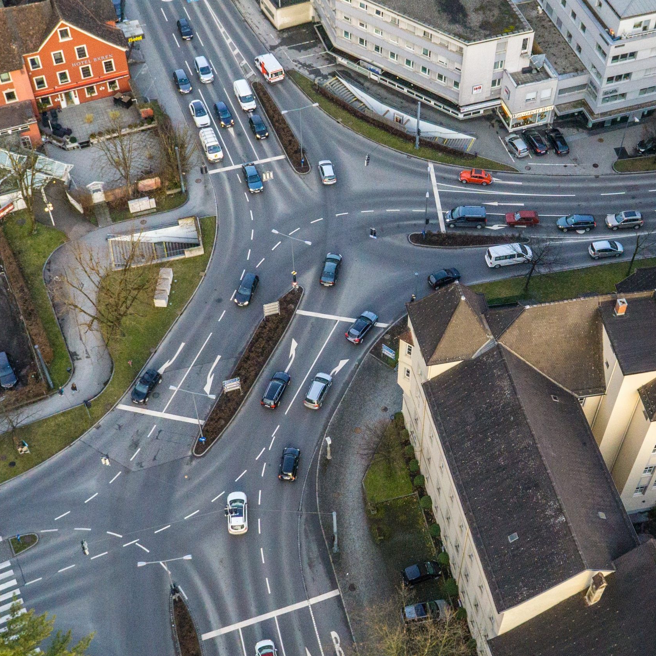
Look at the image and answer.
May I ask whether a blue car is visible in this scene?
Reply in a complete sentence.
Yes, a blue car can be made out from above.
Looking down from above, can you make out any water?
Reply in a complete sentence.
No, there's no water in this view.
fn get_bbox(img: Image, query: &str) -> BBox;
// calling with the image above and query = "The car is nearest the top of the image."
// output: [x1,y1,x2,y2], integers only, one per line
[176,16,193,39]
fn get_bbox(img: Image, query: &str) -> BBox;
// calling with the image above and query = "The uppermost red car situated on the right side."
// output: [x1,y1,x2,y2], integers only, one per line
[458,170,494,187]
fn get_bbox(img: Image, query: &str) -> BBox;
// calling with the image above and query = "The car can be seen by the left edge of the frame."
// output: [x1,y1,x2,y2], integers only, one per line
[0,351,16,387]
